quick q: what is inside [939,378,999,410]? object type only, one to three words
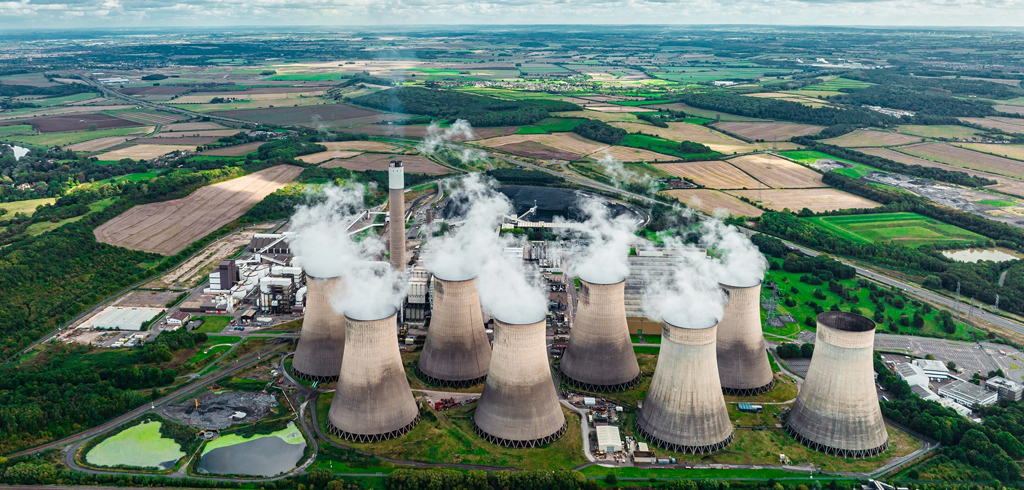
building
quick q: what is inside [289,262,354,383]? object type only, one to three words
cooling tower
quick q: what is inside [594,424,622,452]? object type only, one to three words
building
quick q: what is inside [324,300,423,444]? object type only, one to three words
cooling tower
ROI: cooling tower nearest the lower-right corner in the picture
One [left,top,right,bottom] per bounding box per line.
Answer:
[783,310,892,460]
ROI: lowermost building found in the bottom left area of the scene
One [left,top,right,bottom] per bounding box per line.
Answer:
[183,427,227,443]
